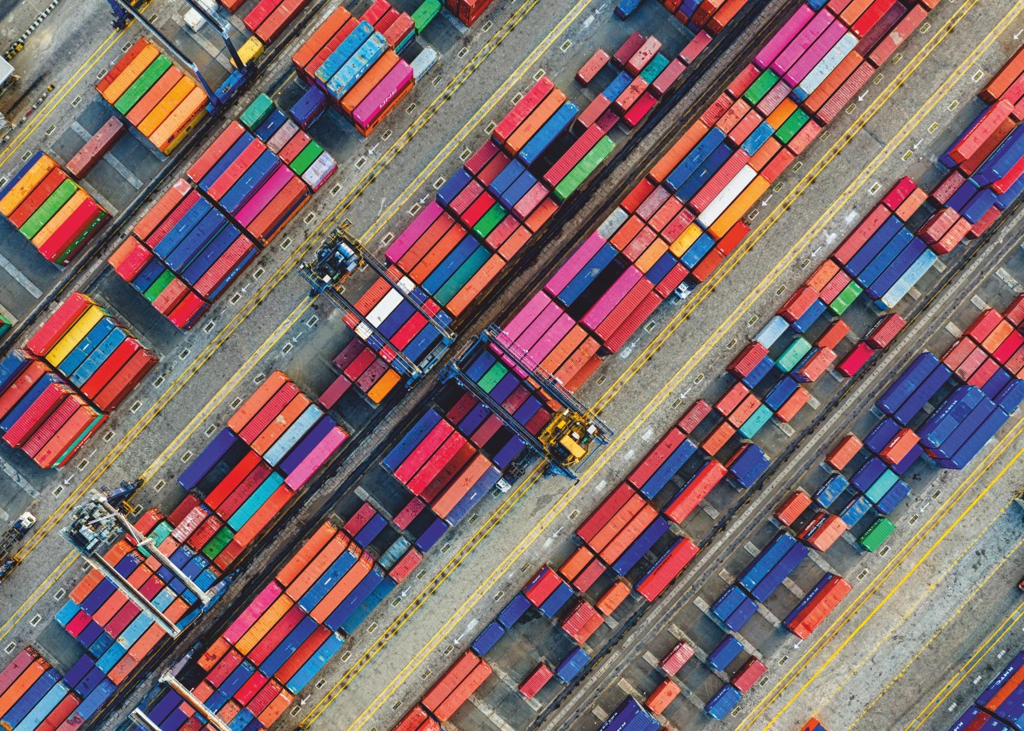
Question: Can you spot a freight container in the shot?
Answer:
Yes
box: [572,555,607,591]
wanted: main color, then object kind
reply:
red shipping container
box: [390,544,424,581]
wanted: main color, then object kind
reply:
red shipping container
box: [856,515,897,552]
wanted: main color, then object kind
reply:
green shipping container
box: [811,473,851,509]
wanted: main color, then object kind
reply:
blue shipping container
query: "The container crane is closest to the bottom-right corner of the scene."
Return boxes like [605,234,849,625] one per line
[430,320,616,487]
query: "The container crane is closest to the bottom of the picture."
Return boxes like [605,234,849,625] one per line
[127,629,244,731]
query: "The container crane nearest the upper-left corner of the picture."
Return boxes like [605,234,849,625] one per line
[105,0,259,121]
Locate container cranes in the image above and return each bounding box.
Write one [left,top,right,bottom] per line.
[290,217,467,399]
[105,0,259,121]
[127,629,244,731]
[50,471,249,646]
[430,320,616,487]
